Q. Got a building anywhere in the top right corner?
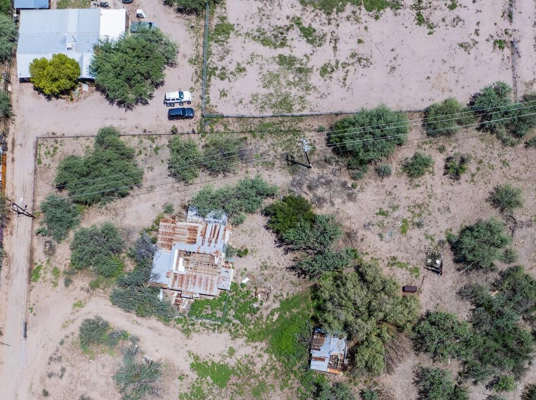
No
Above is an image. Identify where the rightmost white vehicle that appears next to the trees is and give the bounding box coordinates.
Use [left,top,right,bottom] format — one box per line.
[164,91,194,107]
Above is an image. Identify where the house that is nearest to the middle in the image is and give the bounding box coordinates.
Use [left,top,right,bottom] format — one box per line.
[151,206,233,307]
